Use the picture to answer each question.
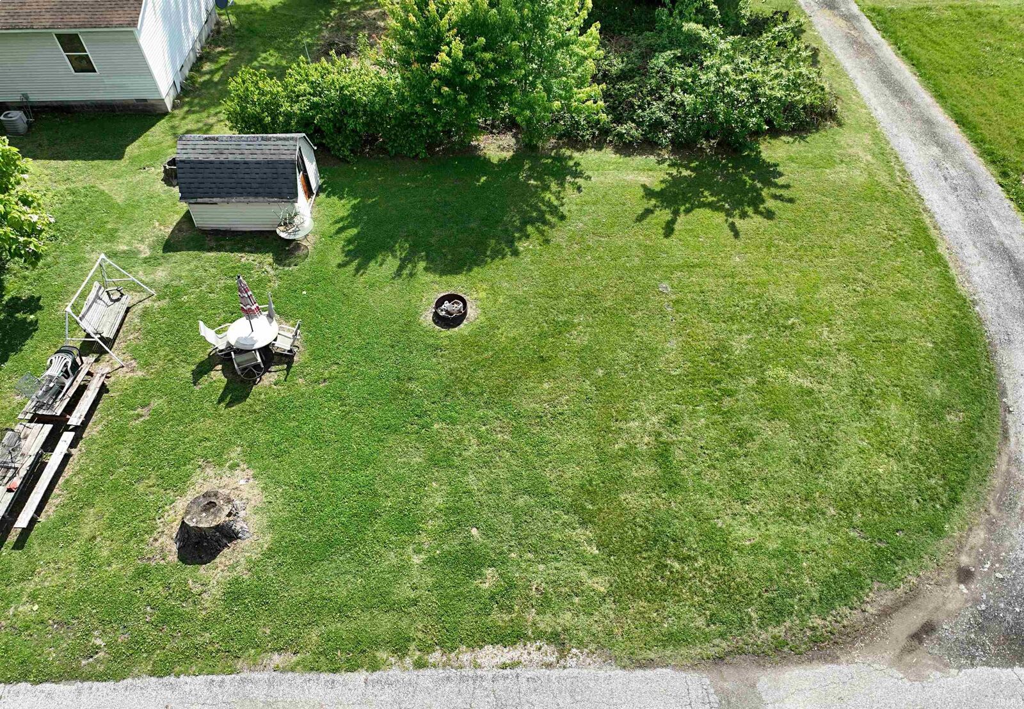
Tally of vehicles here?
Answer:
0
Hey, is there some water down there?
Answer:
No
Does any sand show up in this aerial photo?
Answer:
No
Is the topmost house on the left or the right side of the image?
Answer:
left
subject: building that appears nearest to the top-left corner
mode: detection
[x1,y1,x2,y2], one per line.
[0,0,218,120]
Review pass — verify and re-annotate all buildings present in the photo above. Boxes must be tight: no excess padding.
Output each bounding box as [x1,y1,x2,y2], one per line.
[175,136,319,229]
[0,0,218,120]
